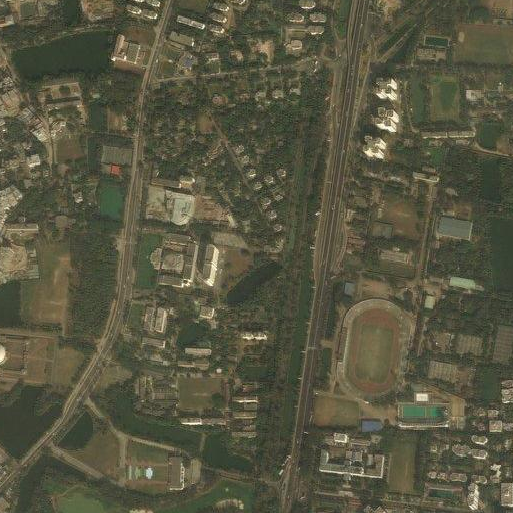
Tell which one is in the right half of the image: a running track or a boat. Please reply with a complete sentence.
There is a running track in the right half of the image.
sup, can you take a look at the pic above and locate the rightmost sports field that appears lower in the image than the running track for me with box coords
[388,441,415,493]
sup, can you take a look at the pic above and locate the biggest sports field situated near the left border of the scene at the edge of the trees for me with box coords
[21,239,69,324]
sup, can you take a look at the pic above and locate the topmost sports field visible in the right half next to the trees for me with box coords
[455,24,513,64]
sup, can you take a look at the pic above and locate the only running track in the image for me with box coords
[347,304,404,396]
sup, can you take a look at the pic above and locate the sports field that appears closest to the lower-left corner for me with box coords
[54,347,82,385]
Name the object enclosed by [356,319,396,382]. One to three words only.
sports field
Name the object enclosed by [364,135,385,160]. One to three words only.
building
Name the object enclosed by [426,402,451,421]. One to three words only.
swimming pool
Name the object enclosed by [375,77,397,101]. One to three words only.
building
